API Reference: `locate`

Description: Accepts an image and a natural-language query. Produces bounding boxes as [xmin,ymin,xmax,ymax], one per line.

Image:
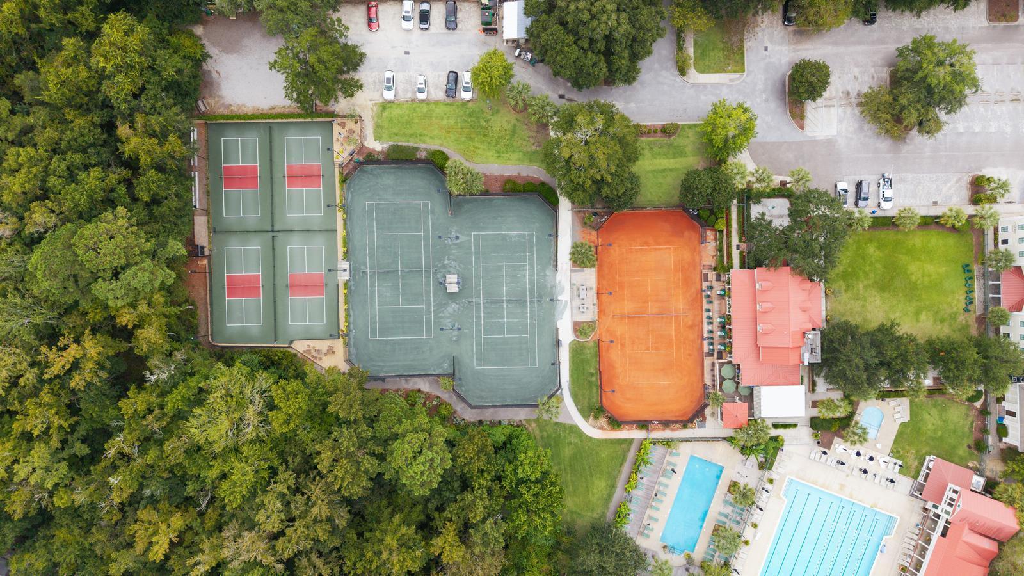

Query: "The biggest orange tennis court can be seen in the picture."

[598,210,705,421]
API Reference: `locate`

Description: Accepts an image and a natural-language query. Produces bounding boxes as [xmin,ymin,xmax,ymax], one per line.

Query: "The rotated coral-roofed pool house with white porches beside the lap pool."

[895,458,1020,576]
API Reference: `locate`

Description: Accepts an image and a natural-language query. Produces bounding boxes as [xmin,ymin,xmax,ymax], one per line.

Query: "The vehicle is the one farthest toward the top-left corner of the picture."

[367,2,380,32]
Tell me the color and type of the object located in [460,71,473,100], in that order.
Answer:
white vehicle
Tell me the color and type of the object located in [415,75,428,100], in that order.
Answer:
white vehicle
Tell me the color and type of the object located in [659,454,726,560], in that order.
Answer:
blue swimming pool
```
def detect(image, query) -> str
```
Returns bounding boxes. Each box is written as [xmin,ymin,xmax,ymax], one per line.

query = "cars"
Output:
[445,1,458,31]
[782,0,794,25]
[863,3,878,26]
[367,2,380,32]
[418,2,431,30]
[382,71,396,100]
[401,1,415,30]
[834,181,849,202]
[460,71,473,100]
[854,180,870,207]
[415,75,428,100]
[445,71,458,98]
